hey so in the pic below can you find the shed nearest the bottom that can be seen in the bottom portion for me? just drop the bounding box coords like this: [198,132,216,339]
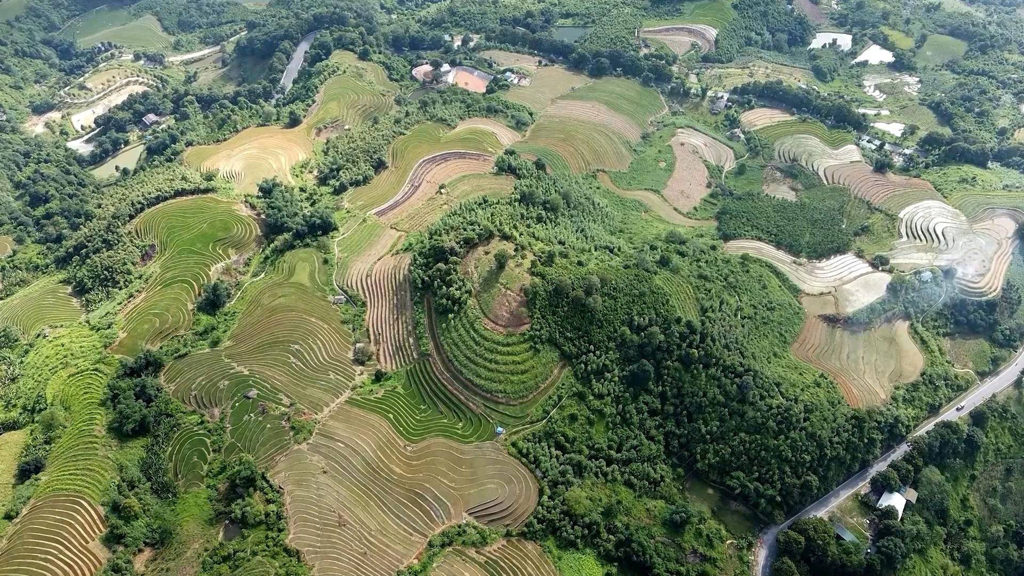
[829,524,864,552]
